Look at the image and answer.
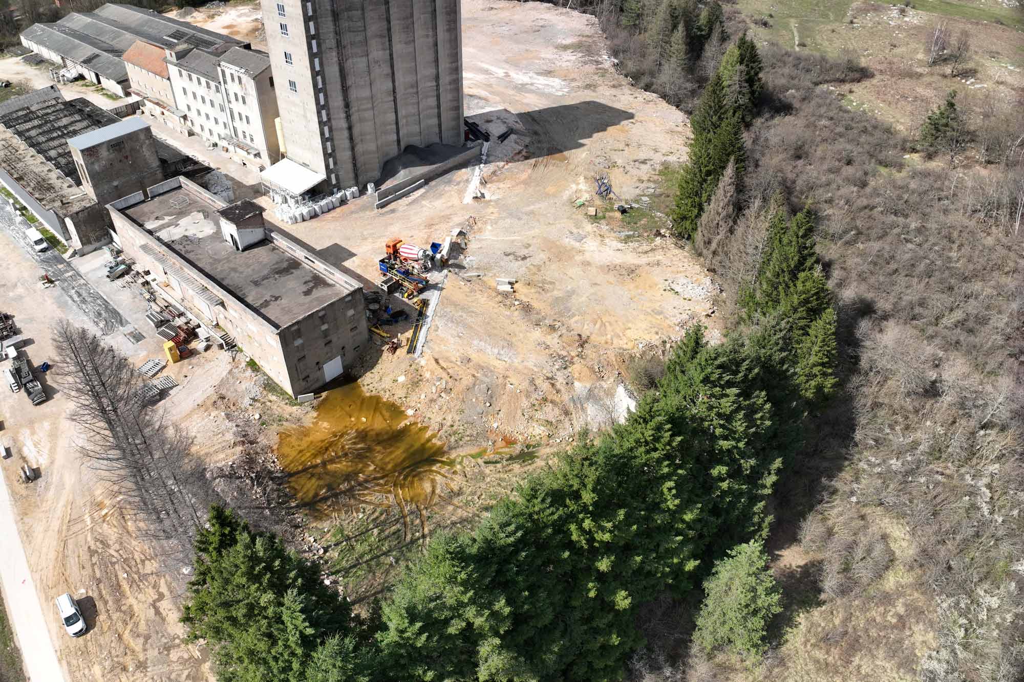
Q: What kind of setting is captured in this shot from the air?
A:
industrial area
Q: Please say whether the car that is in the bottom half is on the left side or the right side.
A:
left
